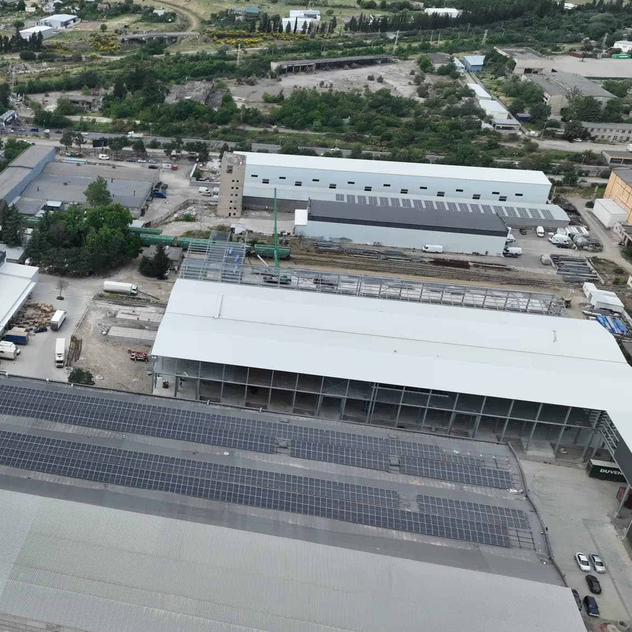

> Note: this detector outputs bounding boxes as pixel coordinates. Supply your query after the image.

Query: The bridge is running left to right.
[119,30,192,46]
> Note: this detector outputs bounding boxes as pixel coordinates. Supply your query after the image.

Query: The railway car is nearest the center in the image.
[253,243,293,260]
